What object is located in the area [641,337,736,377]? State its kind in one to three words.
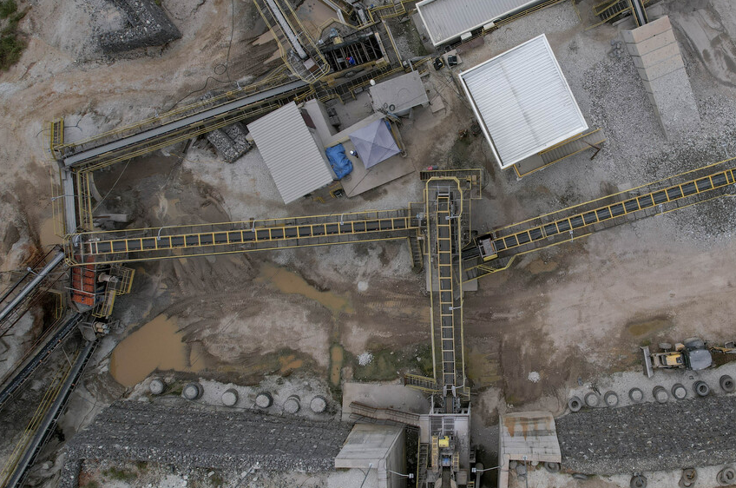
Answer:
work vehicle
